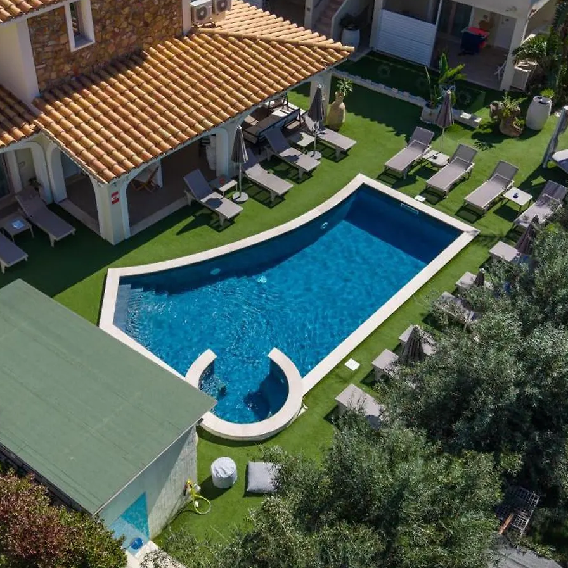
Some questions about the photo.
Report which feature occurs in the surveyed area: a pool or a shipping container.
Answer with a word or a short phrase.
pool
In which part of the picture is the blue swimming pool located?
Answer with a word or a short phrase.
center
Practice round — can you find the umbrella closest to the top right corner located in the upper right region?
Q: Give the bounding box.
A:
[434,91,457,156]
